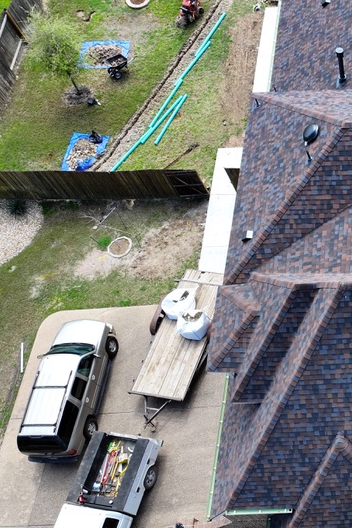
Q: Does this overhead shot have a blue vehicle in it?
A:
No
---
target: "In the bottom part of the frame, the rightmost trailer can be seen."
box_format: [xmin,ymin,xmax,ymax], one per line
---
[124,261,226,439]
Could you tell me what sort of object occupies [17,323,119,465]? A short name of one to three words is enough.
car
